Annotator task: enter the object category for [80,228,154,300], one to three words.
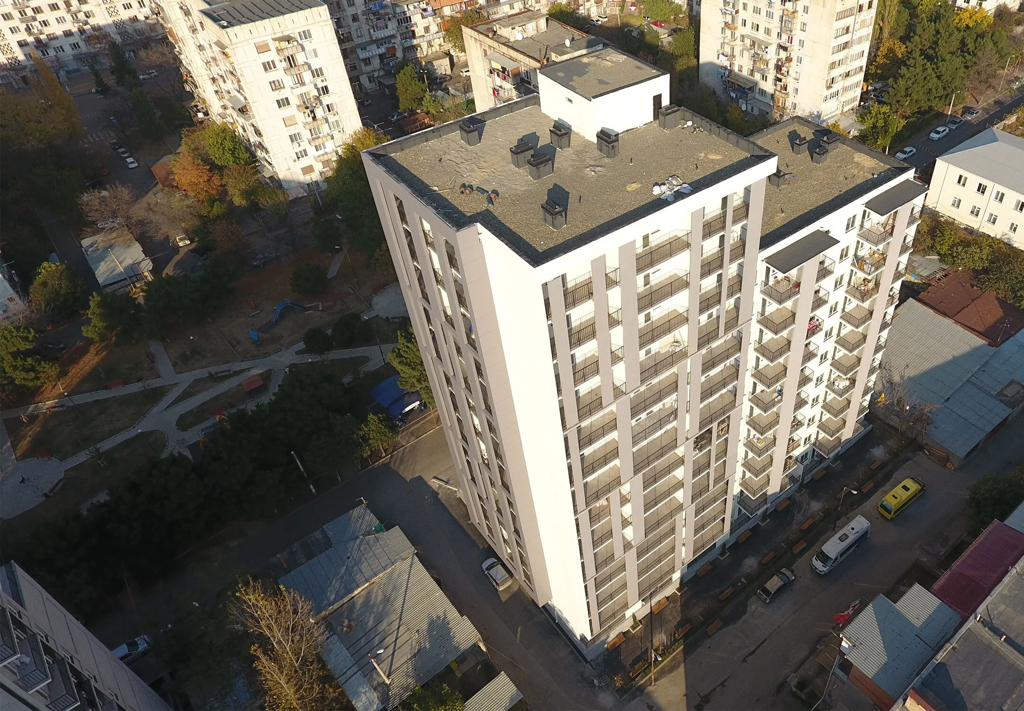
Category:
shed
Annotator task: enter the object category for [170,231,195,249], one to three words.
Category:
car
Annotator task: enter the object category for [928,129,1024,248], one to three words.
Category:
building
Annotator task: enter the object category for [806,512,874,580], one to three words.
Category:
vehicle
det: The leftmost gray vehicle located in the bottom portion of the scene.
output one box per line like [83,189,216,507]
[477,556,519,598]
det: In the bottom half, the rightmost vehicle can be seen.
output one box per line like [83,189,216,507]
[872,468,931,527]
